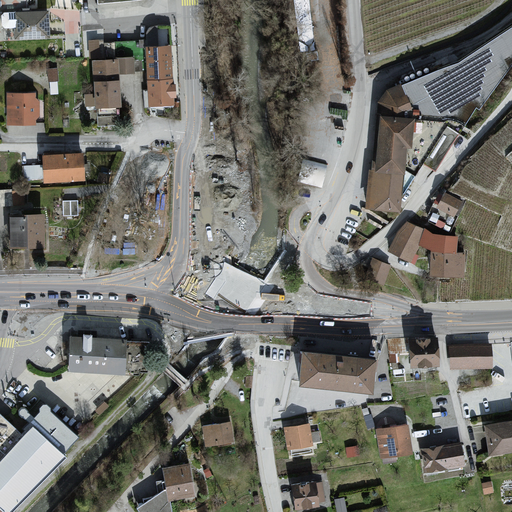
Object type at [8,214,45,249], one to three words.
house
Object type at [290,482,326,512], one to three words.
house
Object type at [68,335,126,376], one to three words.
building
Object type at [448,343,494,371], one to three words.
barn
